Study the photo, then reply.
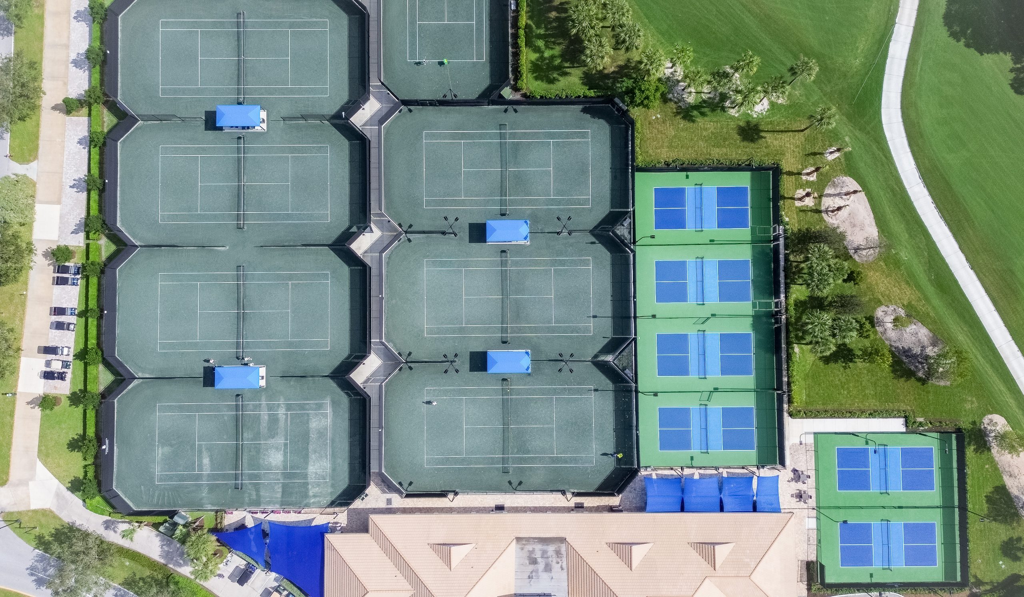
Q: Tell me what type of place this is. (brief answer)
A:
sports ground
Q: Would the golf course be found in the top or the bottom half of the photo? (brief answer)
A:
top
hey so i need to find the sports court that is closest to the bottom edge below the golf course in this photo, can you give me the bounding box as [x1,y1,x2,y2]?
[817,509,960,583]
